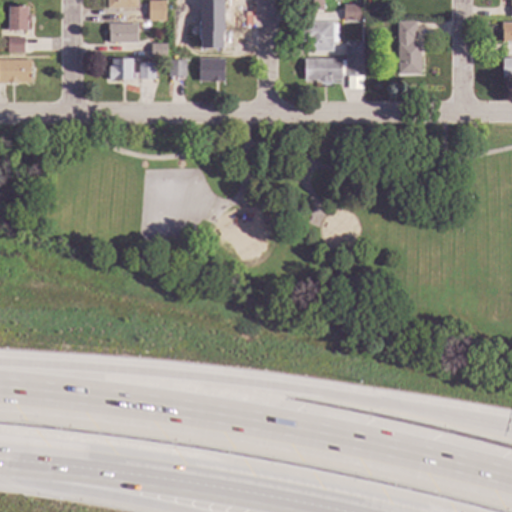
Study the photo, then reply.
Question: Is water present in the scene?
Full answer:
No, water can't be seen anywhere here.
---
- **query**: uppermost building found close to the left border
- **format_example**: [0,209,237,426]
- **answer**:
[8,3,30,30]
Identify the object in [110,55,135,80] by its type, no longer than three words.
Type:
house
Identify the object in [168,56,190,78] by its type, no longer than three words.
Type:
building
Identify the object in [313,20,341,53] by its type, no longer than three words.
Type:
house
